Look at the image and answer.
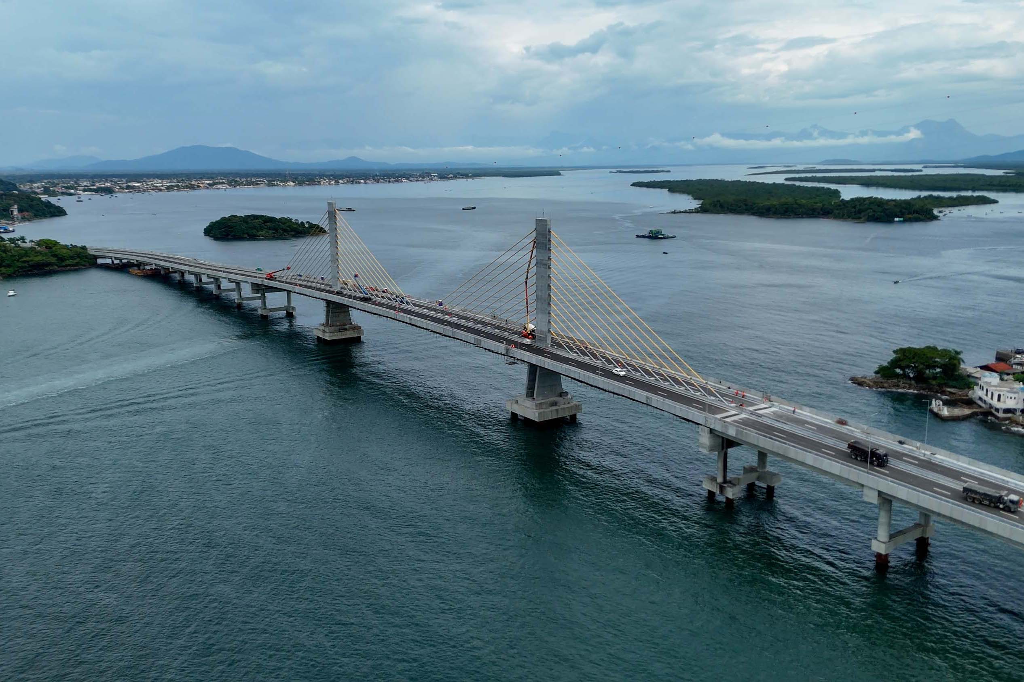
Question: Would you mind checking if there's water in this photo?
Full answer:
Yes, water can be seen from above here.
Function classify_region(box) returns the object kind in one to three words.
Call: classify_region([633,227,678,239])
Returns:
ship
